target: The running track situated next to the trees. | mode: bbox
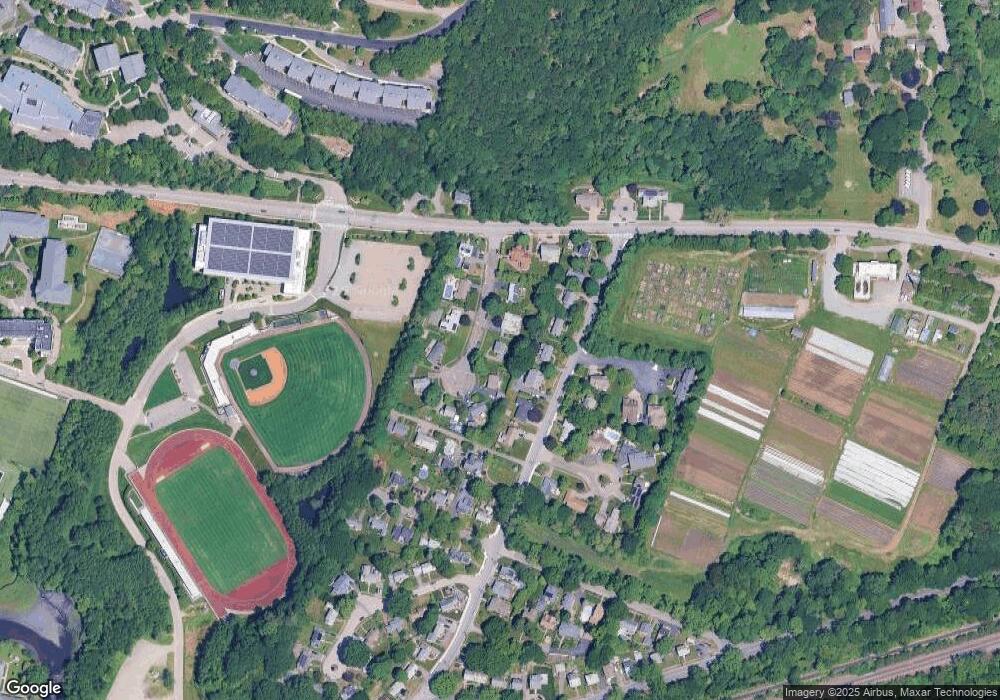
[128,425,300,618]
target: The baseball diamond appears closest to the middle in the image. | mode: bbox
[216,316,375,474]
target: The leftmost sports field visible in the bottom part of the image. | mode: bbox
[0,380,65,532]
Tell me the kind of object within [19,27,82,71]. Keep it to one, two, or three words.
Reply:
building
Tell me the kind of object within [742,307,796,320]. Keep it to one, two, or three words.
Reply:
greenhouse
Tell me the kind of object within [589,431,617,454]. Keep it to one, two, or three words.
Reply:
house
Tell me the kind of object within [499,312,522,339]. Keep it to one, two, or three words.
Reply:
house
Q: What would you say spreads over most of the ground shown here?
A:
trees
